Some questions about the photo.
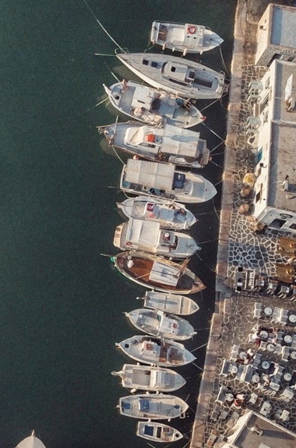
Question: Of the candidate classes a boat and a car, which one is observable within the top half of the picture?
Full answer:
The feature located within the top half of the picture is a boat.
